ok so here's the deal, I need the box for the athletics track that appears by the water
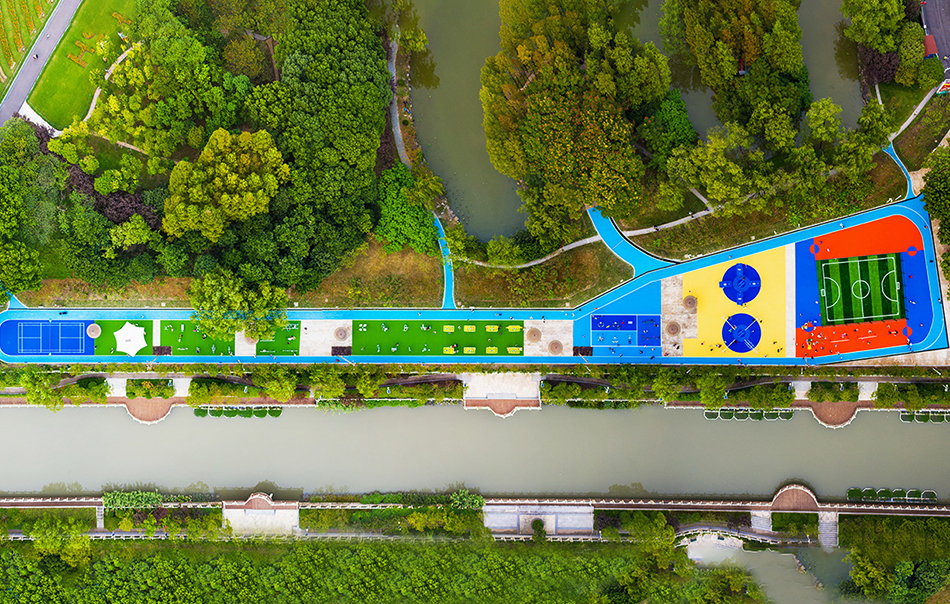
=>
[0,195,948,366]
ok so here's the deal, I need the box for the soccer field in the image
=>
[817,251,912,327]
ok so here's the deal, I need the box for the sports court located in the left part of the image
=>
[1,320,95,355]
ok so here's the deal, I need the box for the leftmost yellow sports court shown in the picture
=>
[683,245,786,355]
